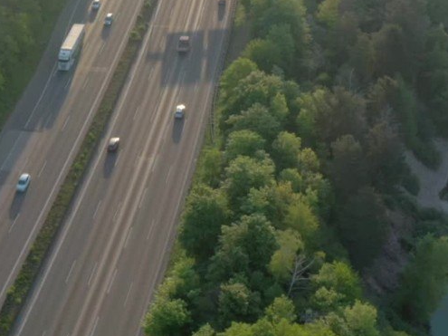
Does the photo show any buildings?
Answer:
No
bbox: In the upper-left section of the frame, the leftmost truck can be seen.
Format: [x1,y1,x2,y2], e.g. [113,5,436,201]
[58,25,85,71]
